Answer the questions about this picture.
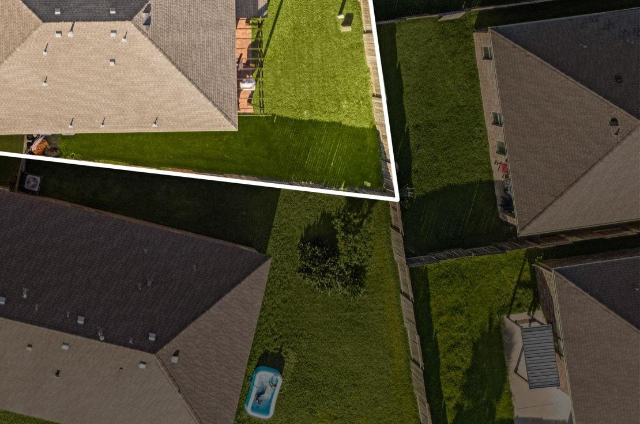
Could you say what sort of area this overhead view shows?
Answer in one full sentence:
What you see here is a residential area.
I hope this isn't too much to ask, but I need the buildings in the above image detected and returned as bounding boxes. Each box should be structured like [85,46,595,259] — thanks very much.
[536,248,640,424]
[474,6,640,238]
[0,0,240,135]
[0,187,271,424]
